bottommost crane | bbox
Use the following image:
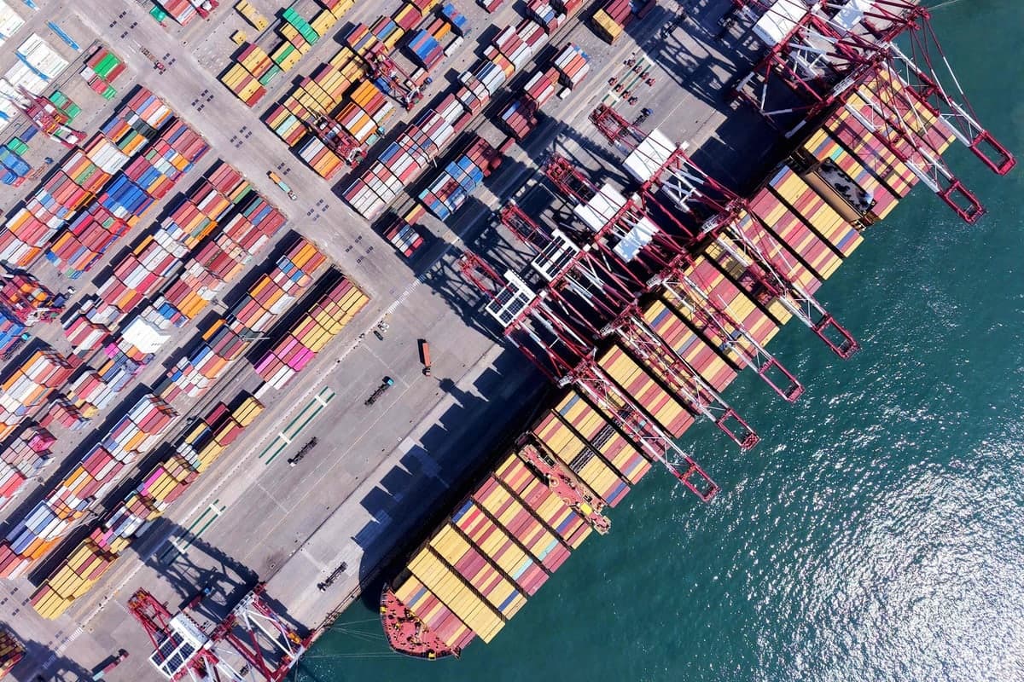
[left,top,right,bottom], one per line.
[128,584,308,682]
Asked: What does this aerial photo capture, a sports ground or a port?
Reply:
port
